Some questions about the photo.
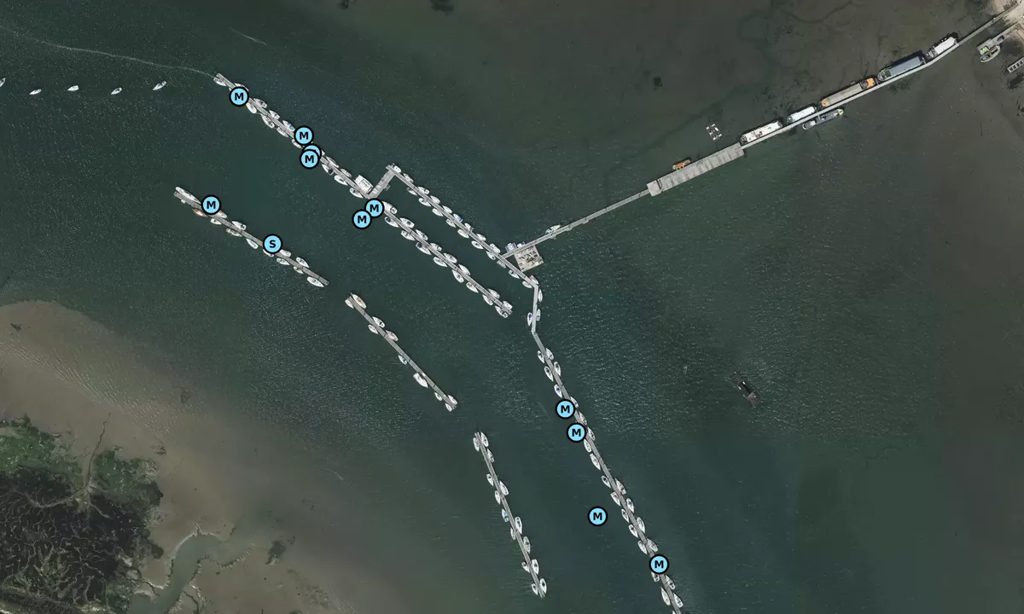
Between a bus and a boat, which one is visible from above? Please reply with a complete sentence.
Visible in the photo is a boat.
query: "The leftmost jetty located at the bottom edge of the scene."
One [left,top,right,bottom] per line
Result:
[475,433,545,598]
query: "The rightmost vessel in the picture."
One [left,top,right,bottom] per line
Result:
[980,46,1001,62]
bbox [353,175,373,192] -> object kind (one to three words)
boat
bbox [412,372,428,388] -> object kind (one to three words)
boat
